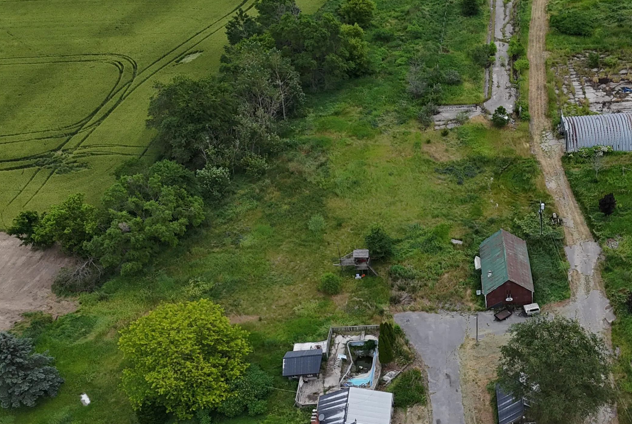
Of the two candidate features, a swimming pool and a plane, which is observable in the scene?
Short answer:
swimming pool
